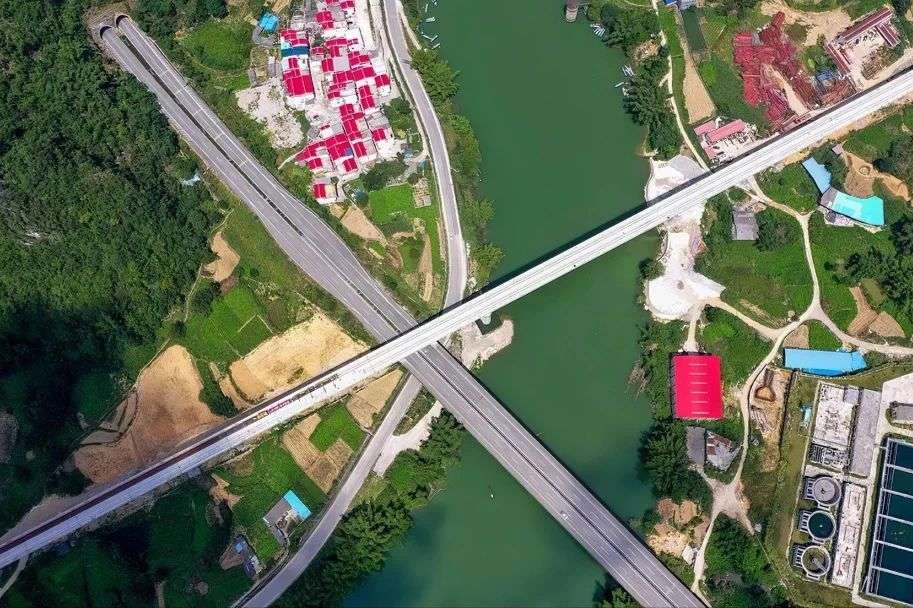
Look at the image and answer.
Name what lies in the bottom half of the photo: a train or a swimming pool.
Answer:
train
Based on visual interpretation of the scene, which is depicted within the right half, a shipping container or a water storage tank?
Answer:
water storage tank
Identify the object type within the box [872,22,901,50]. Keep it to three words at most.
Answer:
building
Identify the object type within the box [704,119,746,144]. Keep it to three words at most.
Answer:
building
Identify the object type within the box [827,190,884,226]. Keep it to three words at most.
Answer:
shed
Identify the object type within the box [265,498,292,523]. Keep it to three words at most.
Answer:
house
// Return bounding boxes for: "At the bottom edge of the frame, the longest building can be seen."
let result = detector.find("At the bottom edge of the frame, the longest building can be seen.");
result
[827,481,867,588]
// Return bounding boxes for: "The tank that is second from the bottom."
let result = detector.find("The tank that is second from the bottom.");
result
[794,510,836,545]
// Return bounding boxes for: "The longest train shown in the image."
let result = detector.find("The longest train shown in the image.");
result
[252,373,338,420]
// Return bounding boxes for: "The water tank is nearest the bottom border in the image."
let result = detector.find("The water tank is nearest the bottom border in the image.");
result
[788,545,831,580]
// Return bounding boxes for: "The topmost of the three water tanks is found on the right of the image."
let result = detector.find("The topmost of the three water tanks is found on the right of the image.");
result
[802,475,842,508]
